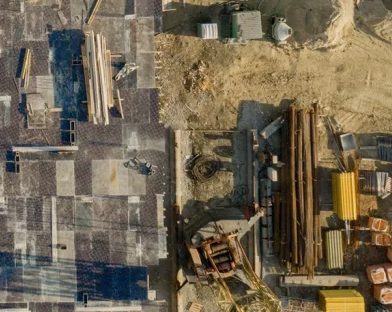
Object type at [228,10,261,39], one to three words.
shed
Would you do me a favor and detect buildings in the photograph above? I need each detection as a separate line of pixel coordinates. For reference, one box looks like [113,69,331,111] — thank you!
[228,10,261,39]
[0,0,170,312]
